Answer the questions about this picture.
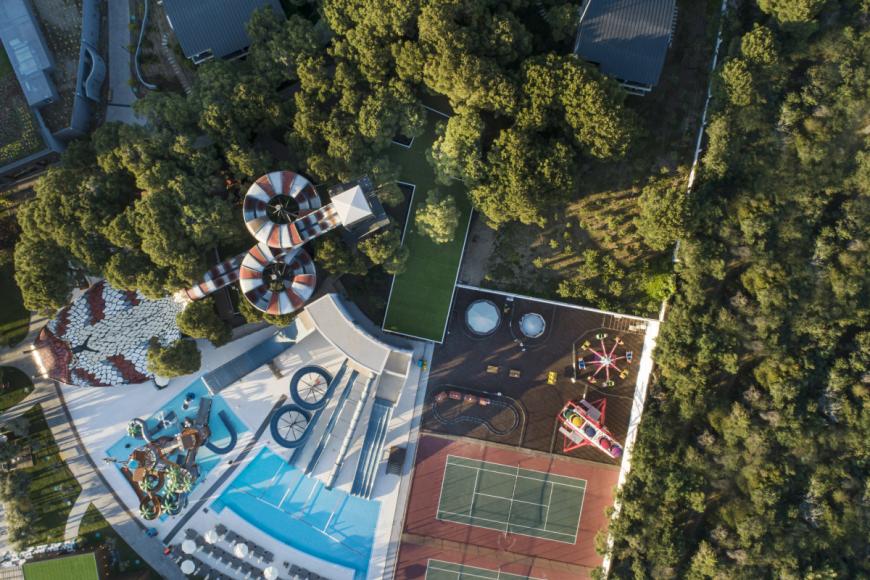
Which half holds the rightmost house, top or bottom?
top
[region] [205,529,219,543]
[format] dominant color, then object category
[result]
white umbrella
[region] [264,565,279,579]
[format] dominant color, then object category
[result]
white umbrella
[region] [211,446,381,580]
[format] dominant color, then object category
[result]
blue swimming pool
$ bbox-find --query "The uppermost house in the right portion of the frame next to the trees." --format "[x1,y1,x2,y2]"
[574,0,679,96]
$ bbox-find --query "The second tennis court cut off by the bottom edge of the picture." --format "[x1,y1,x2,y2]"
[396,538,595,580]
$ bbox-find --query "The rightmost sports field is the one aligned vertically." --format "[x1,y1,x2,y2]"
[381,107,477,342]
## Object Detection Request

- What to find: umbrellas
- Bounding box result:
[183,538,197,553]
[234,542,249,556]
[205,529,219,543]
[264,565,279,579]
[182,559,196,572]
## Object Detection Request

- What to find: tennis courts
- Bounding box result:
[396,538,595,580]
[403,435,616,564]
